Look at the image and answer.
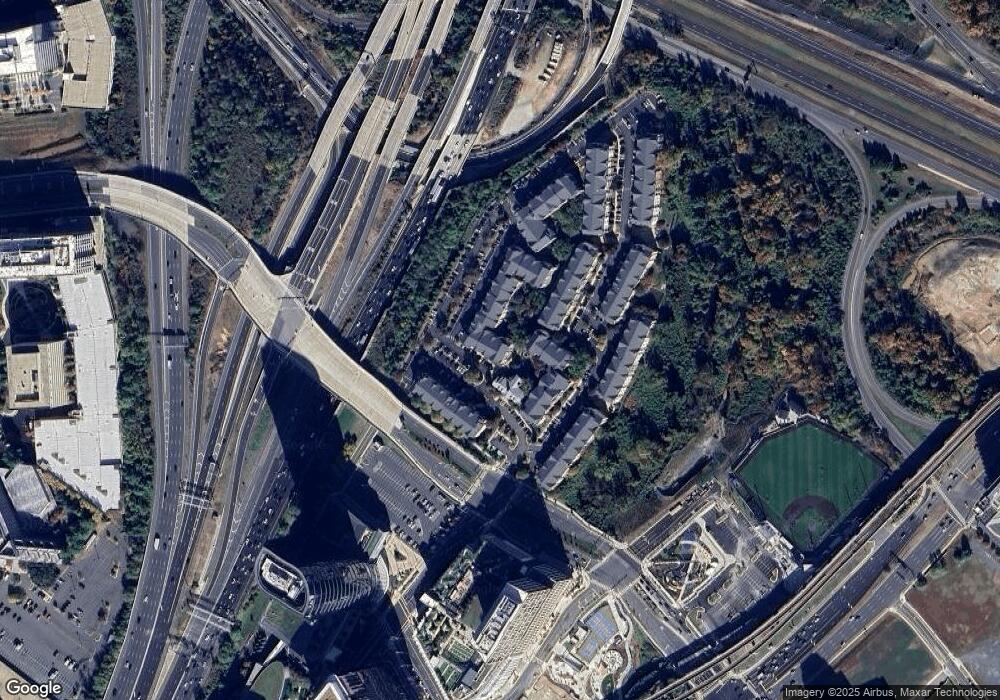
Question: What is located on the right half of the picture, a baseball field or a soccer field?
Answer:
baseball field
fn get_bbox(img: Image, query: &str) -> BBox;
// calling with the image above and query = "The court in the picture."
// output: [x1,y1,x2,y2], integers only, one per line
[574,603,618,663]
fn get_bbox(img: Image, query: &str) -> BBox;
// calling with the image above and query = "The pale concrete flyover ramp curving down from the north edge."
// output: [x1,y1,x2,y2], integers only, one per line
[542,0,636,134]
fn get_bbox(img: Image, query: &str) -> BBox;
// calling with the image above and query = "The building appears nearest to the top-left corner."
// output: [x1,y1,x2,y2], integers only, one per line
[0,23,62,74]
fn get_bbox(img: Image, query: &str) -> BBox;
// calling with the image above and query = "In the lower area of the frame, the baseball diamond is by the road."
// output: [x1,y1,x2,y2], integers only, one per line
[731,420,888,552]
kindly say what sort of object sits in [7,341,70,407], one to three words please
building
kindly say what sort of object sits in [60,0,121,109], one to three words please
building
